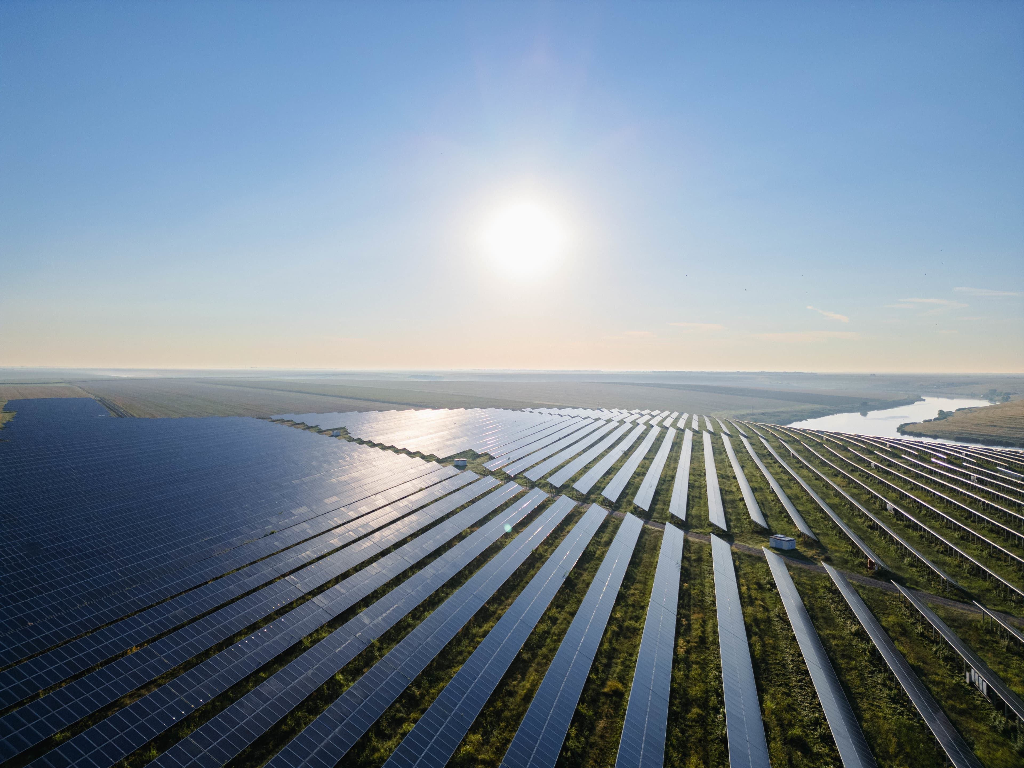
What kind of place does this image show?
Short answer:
solar farm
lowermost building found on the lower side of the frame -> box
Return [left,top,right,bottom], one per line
[772,537,796,553]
